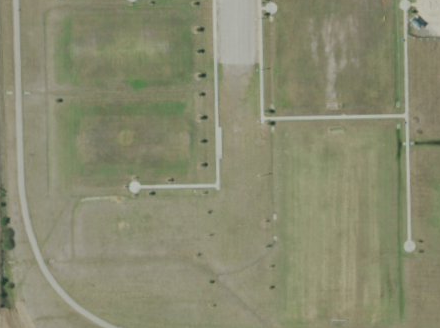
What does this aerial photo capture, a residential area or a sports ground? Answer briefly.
sports ground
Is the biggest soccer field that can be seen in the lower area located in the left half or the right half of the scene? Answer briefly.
right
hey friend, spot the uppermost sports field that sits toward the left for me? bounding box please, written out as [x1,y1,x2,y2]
[55,10,195,86]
